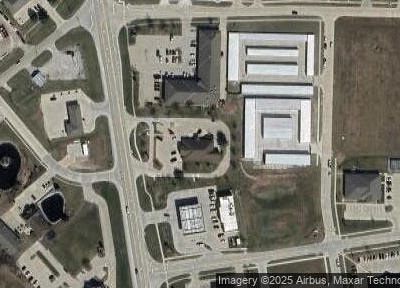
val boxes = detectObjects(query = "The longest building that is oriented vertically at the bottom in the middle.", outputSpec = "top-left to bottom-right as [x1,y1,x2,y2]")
[218,194,239,232]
